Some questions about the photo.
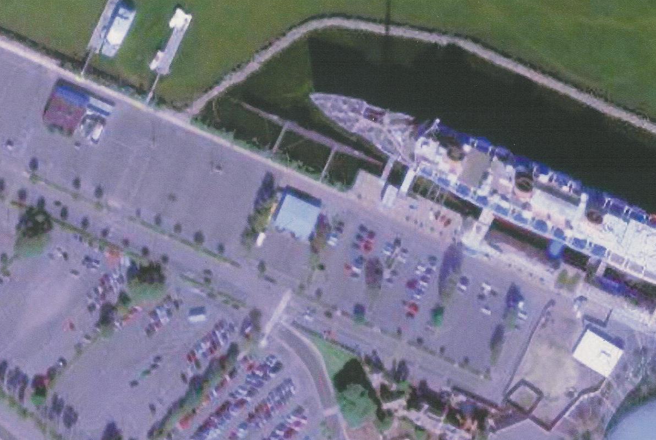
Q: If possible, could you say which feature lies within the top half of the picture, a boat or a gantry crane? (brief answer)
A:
boat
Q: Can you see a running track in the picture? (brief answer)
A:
No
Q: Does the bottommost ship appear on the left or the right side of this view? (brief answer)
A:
right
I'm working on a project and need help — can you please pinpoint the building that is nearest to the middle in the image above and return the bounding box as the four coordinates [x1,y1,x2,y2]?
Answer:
[275,193,320,237]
